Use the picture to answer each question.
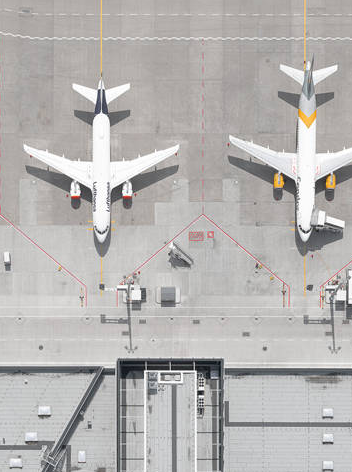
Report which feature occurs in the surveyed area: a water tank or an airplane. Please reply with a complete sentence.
The one in the frame is an airplane.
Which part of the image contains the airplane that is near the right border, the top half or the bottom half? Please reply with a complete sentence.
The top half of the photo is where the airplane that is near the right border is.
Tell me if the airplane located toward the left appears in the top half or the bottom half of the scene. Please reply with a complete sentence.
The airplane located toward the left is in the top half of the image.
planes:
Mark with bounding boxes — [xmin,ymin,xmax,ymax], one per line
[23,71,180,242]
[229,55,352,242]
